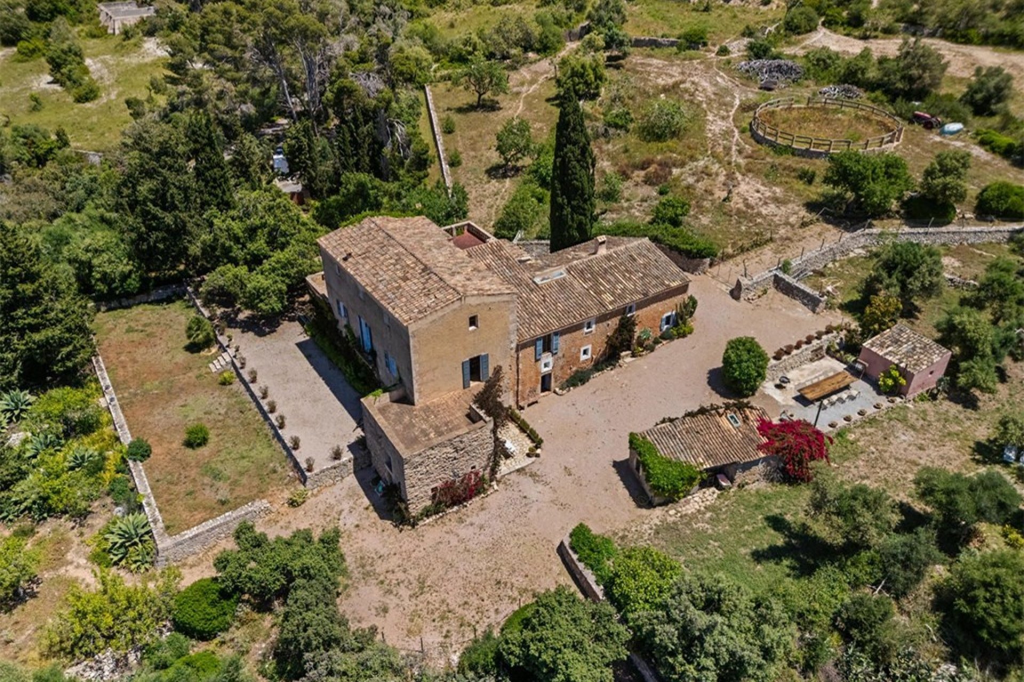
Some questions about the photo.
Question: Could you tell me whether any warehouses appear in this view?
No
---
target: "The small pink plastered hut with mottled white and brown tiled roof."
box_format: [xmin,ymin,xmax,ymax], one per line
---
[847,321,953,399]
